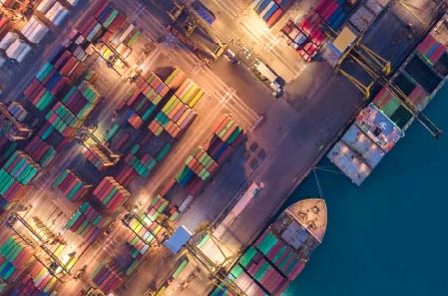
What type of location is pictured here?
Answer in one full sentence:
The picture captures a port.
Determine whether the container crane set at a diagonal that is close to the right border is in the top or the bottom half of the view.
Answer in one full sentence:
It is in the top half that the container crane set at a diagonal that is close to the right border appears.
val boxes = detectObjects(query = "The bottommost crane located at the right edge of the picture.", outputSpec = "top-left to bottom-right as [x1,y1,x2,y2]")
[320,24,442,139]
